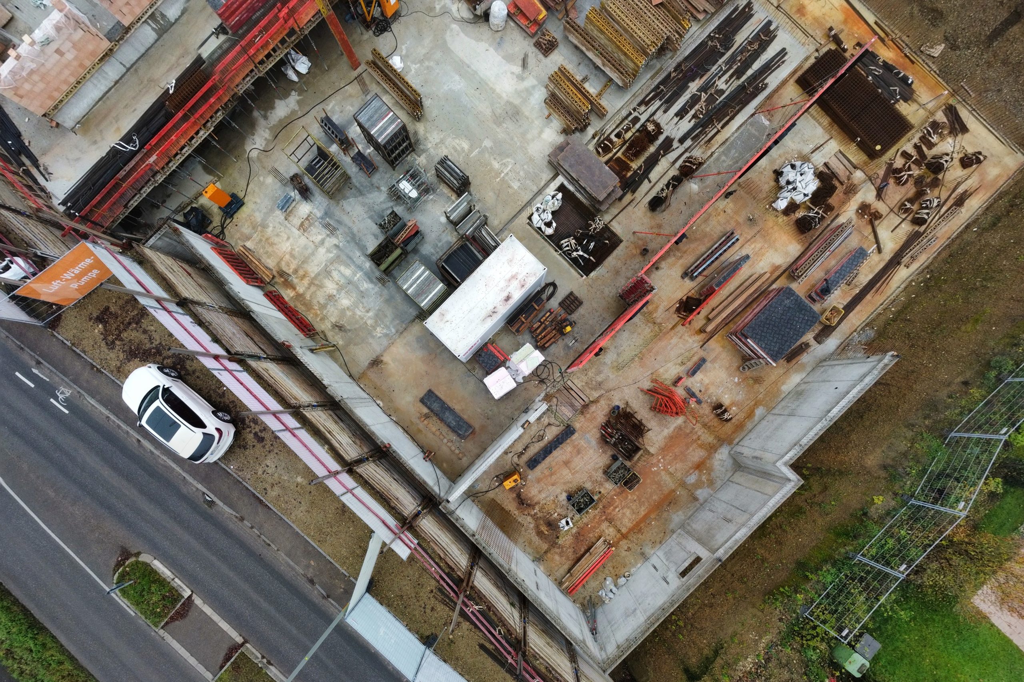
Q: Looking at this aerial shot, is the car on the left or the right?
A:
left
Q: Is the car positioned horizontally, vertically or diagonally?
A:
diagonally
